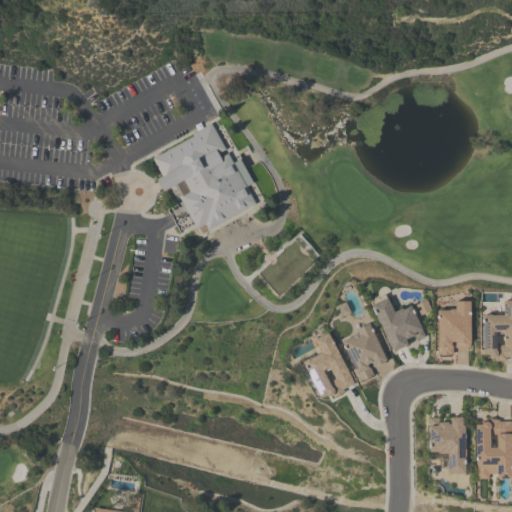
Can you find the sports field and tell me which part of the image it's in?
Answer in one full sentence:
The sports field is located in the left region of the scene.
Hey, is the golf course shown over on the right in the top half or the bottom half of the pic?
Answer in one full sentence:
The top half of the photo is where the golf course shown over on the right is.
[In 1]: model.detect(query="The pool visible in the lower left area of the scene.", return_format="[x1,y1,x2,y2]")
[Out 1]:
[112,480,135,492]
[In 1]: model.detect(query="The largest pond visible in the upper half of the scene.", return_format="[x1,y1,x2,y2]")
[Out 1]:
[348,83,479,192]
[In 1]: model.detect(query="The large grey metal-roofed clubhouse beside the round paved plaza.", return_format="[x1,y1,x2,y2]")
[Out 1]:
[153,122,257,233]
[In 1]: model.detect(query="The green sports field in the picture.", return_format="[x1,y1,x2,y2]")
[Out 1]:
[0,210,71,384]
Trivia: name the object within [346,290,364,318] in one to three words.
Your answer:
swimming pool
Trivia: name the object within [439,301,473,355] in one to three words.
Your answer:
house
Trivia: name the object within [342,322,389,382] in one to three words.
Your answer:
house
